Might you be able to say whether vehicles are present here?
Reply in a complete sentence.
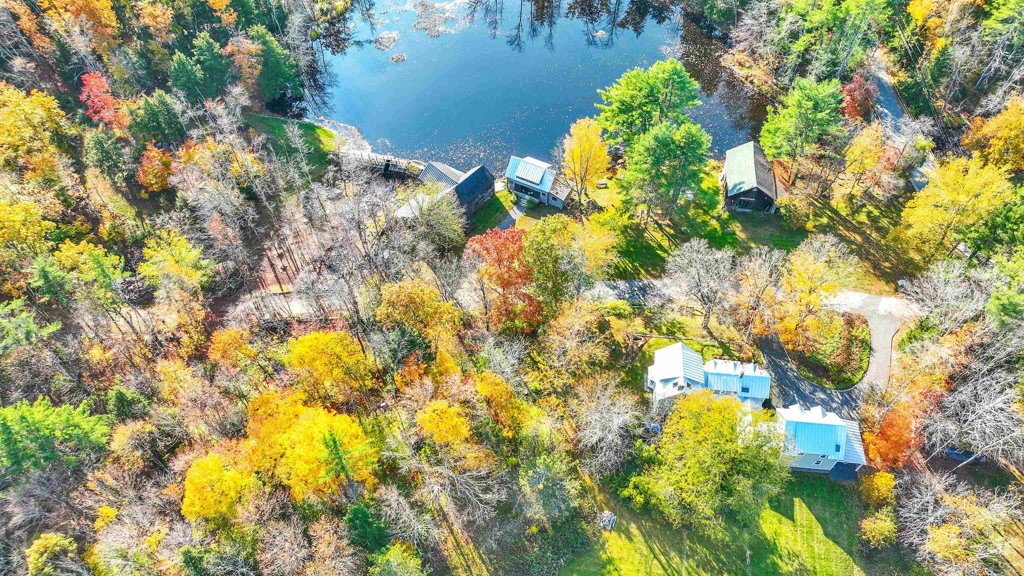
No, I can see no vehicle in this picture.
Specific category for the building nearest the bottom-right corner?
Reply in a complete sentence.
In the photo, the building nearest the bottom-right corner shows up as a home.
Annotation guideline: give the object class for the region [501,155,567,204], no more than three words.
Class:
house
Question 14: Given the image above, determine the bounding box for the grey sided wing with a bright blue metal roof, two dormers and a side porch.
[773,401,868,487]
